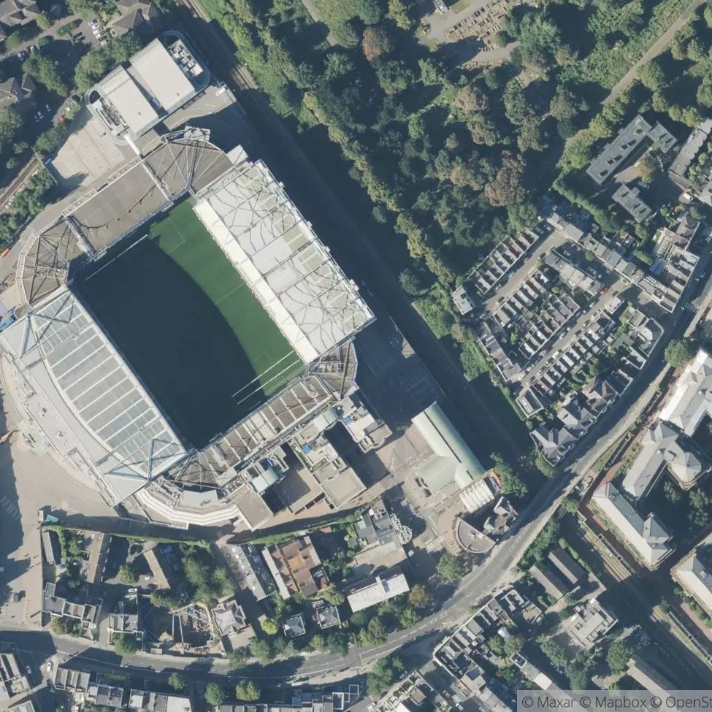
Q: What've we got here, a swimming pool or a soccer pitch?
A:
soccer pitch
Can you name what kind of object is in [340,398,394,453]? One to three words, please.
building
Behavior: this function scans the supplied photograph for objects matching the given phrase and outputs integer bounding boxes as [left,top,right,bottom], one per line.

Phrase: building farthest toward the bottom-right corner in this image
[625,653,706,712]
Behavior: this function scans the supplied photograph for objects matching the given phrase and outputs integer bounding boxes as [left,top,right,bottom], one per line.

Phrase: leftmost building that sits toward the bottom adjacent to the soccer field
[131,479,240,531]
